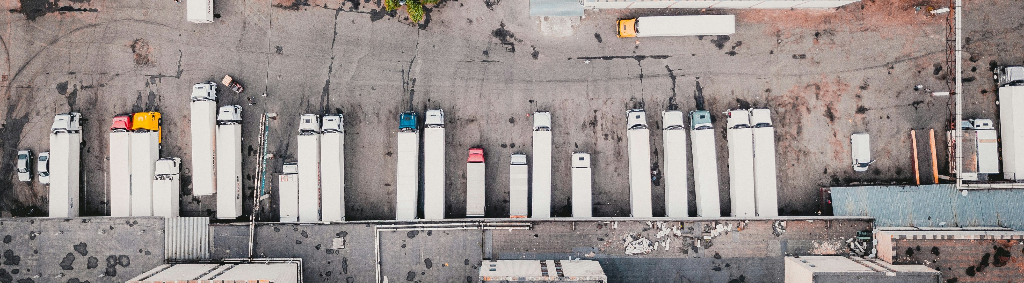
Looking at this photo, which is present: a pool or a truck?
truck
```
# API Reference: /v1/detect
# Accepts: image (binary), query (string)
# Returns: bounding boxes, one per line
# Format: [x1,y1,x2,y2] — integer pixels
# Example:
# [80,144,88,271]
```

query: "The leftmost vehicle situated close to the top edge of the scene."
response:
[187,0,218,23]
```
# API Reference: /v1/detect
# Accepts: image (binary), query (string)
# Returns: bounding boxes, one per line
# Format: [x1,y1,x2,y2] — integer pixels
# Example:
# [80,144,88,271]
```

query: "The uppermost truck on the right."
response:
[613,15,734,38]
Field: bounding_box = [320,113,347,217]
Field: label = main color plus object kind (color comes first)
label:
white truck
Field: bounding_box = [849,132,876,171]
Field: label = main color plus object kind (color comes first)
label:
white vehicle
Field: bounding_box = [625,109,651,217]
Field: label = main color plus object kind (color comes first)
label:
white truck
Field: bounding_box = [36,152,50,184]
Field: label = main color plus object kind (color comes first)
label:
white car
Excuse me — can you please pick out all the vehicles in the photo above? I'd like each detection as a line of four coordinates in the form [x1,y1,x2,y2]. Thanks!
[466,146,487,215]
[216,104,246,217]
[397,111,420,217]
[153,155,185,217]
[570,151,592,217]
[131,111,164,216]
[187,0,218,23]
[997,65,1024,178]
[613,15,734,38]
[531,111,554,217]
[849,132,876,171]
[689,109,720,217]
[424,108,448,217]
[298,113,323,217]
[508,152,529,215]
[625,109,651,217]
[36,152,50,184]
[190,82,220,196]
[661,110,687,217]
[747,108,777,217]
[16,150,35,181]
[965,118,998,173]
[279,160,299,217]
[320,113,347,217]
[110,112,140,216]
[720,109,755,217]
[49,112,86,216]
